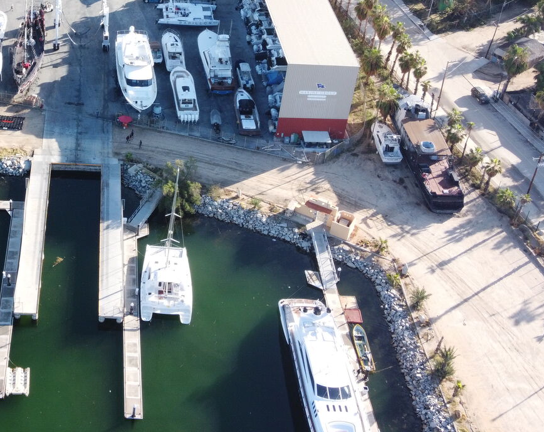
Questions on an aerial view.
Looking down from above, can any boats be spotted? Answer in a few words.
Yes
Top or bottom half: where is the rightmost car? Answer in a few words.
top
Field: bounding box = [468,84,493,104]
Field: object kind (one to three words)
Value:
car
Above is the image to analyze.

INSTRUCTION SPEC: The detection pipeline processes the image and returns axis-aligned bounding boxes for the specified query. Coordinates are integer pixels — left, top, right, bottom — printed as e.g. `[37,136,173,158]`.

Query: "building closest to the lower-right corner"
[329,210,352,239]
